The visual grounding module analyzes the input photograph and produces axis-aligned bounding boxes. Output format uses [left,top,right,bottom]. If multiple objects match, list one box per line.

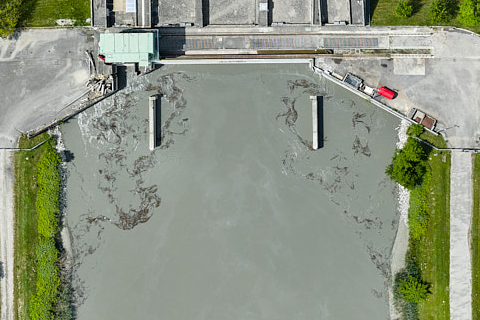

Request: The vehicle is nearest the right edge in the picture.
[411,110,440,131]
